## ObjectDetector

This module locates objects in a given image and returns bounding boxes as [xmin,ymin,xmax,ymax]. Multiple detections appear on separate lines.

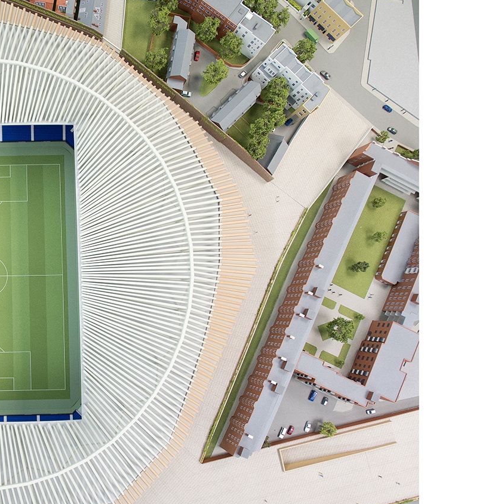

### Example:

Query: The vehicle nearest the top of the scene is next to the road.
[305,29,318,41]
